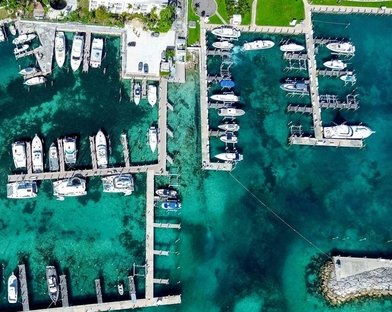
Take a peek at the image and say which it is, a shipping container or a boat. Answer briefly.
boat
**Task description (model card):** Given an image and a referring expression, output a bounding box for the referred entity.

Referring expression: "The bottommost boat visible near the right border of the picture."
[321,125,377,139]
